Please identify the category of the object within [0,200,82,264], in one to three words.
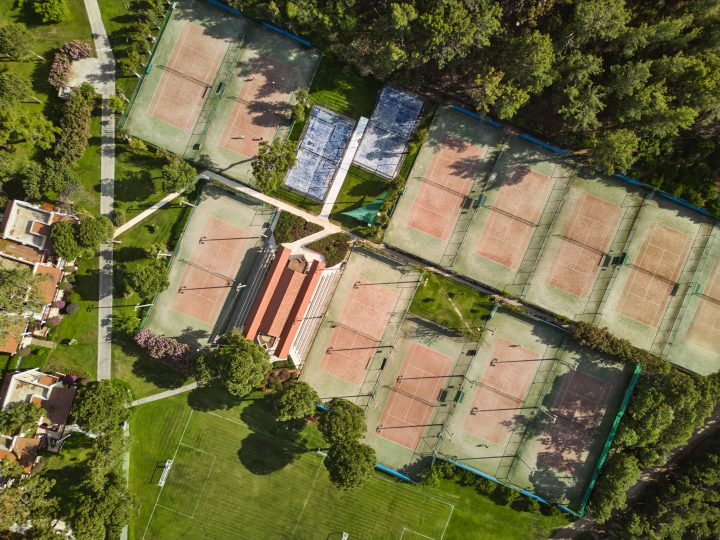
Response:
house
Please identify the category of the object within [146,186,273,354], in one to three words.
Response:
tennis court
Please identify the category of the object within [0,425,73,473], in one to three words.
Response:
house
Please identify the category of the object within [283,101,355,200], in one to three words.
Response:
sports court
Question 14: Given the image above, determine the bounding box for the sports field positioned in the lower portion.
[140,406,458,540]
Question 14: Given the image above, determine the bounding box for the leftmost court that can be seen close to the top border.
[120,0,253,161]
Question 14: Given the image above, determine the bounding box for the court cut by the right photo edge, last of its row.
[660,217,720,377]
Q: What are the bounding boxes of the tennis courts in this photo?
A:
[146,186,273,354]
[438,304,566,479]
[520,159,647,327]
[194,24,323,191]
[450,129,577,298]
[353,314,480,486]
[590,188,717,356]
[506,333,632,508]
[297,246,423,416]
[120,0,253,161]
[660,217,720,377]
[380,101,508,270]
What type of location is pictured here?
sports ground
